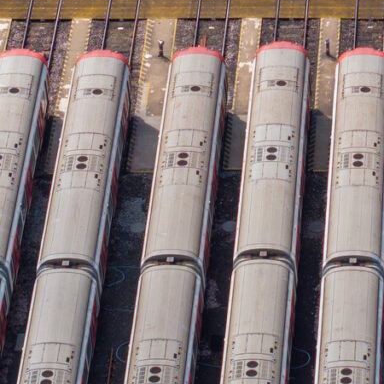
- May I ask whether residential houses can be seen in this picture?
No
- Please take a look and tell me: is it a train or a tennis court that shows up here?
train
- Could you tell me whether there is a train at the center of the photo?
Yes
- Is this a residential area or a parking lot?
parking lot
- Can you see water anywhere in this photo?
No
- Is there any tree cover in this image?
No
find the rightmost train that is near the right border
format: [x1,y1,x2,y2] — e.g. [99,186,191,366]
[314,49,384,384]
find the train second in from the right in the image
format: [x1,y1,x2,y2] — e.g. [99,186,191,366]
[219,43,313,384]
